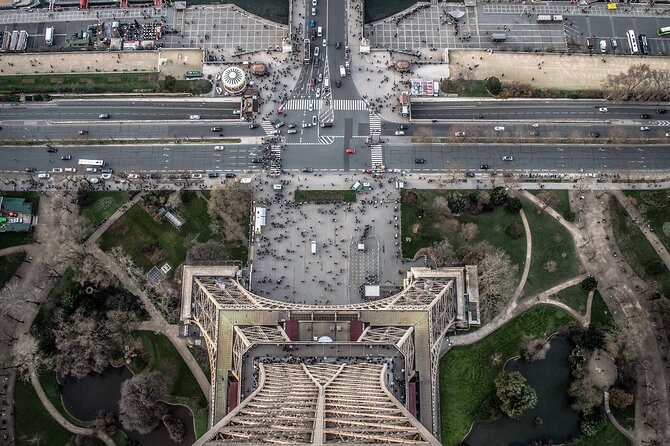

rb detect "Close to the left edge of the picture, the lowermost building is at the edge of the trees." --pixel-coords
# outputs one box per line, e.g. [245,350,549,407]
[0,198,38,234]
